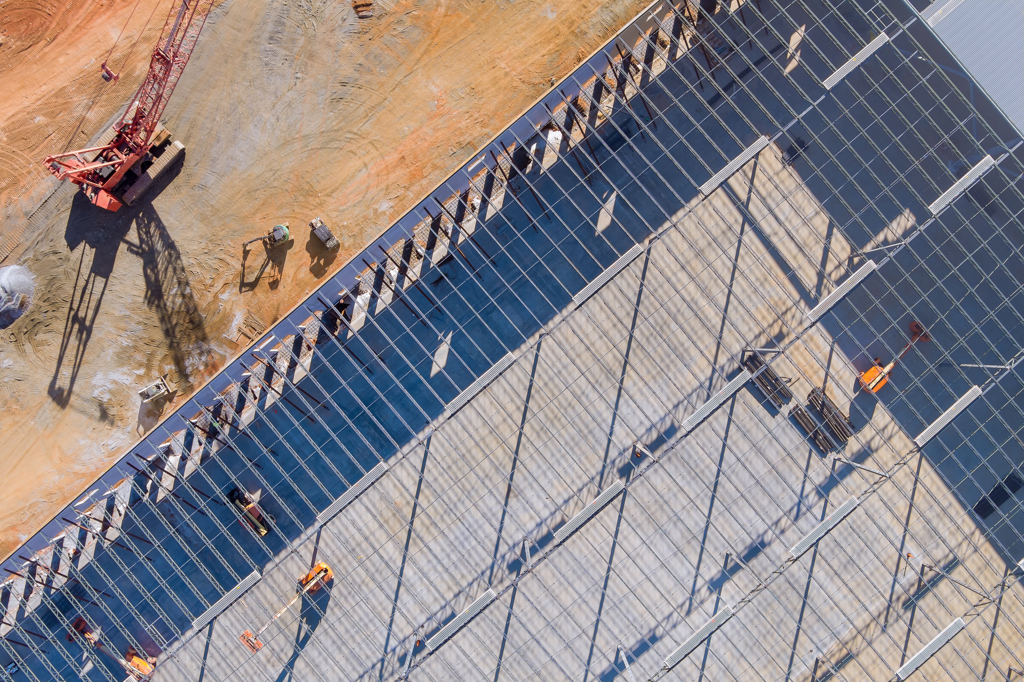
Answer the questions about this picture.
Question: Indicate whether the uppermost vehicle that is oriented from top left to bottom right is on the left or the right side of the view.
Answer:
left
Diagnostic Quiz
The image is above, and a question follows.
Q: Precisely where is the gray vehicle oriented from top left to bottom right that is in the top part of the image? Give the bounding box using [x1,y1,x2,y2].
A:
[307,213,339,249]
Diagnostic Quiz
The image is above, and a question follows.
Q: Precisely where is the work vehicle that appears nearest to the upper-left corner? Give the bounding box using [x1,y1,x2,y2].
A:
[243,222,295,250]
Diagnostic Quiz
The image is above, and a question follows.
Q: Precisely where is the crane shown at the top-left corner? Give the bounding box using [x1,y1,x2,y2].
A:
[37,0,211,212]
